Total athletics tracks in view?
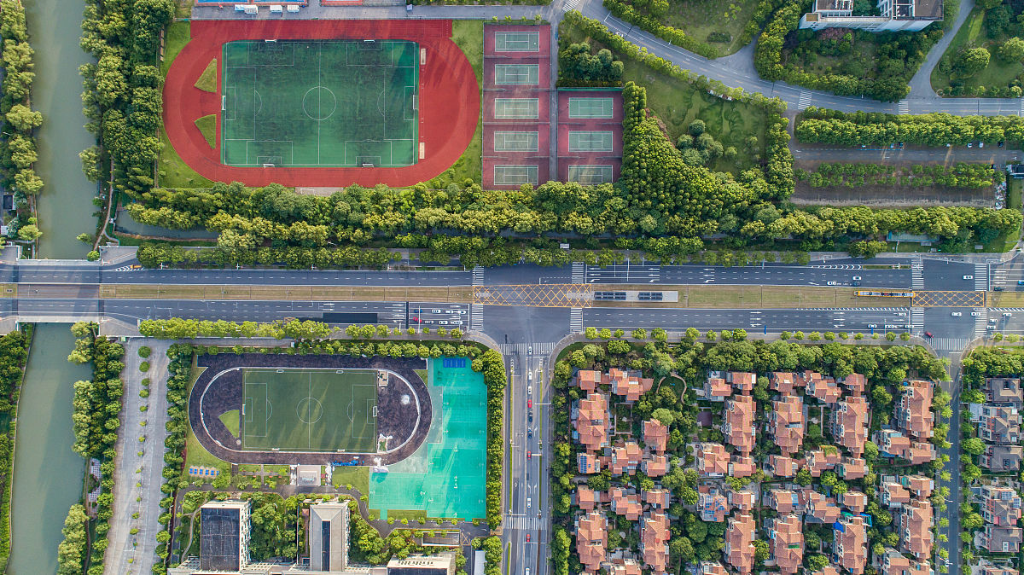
2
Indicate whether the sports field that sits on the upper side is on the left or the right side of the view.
left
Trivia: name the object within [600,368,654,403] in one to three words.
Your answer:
house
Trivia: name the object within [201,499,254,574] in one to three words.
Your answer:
building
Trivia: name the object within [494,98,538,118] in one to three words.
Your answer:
tennis court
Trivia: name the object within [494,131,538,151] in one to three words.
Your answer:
tennis court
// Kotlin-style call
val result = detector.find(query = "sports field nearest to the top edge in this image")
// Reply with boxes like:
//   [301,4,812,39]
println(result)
[222,40,419,167]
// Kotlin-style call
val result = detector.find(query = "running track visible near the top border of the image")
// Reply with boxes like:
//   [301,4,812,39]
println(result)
[162,20,479,187]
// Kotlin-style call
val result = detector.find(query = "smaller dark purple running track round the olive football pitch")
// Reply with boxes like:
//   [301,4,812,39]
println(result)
[189,354,432,466]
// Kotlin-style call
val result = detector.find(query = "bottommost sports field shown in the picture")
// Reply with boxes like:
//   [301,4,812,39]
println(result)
[242,369,376,452]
